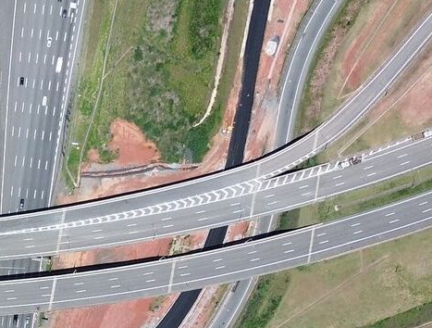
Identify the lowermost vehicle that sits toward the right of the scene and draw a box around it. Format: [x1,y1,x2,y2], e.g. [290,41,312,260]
[340,155,362,167]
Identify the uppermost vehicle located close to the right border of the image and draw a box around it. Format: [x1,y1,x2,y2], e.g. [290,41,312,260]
[411,128,432,141]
